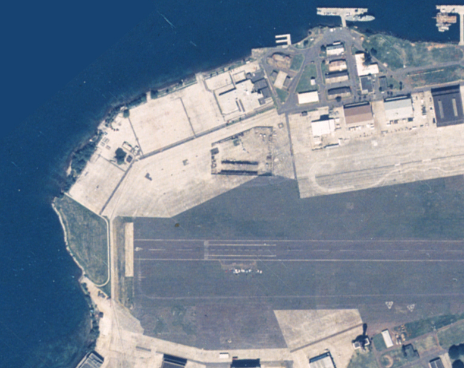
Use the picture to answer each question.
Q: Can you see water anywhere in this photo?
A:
Yes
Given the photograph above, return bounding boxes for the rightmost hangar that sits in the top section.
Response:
[432,87,464,127]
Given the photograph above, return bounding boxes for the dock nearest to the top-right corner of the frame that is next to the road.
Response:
[435,5,464,45]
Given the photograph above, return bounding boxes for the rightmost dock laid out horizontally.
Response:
[316,8,368,27]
